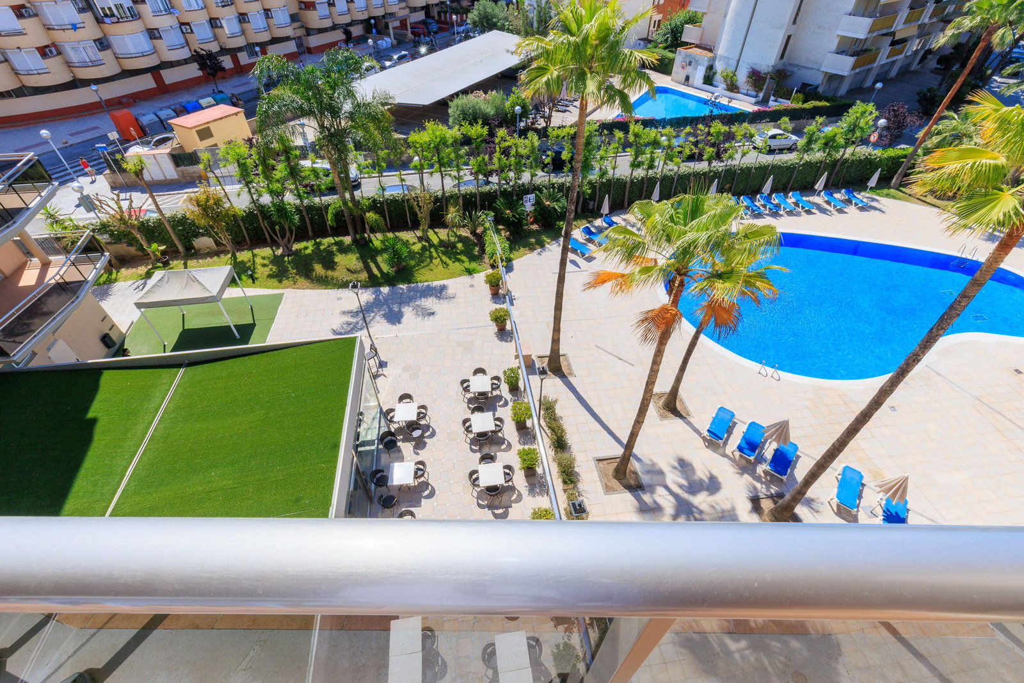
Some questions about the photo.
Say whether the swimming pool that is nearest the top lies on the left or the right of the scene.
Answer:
right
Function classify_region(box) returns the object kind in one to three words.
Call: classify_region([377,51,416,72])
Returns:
car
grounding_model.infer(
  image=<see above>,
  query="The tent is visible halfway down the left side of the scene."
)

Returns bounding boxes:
[129,264,252,351]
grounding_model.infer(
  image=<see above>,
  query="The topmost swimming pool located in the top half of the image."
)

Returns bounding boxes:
[615,85,750,120]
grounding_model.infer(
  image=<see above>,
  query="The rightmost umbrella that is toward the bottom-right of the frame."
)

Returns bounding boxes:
[857,474,909,520]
